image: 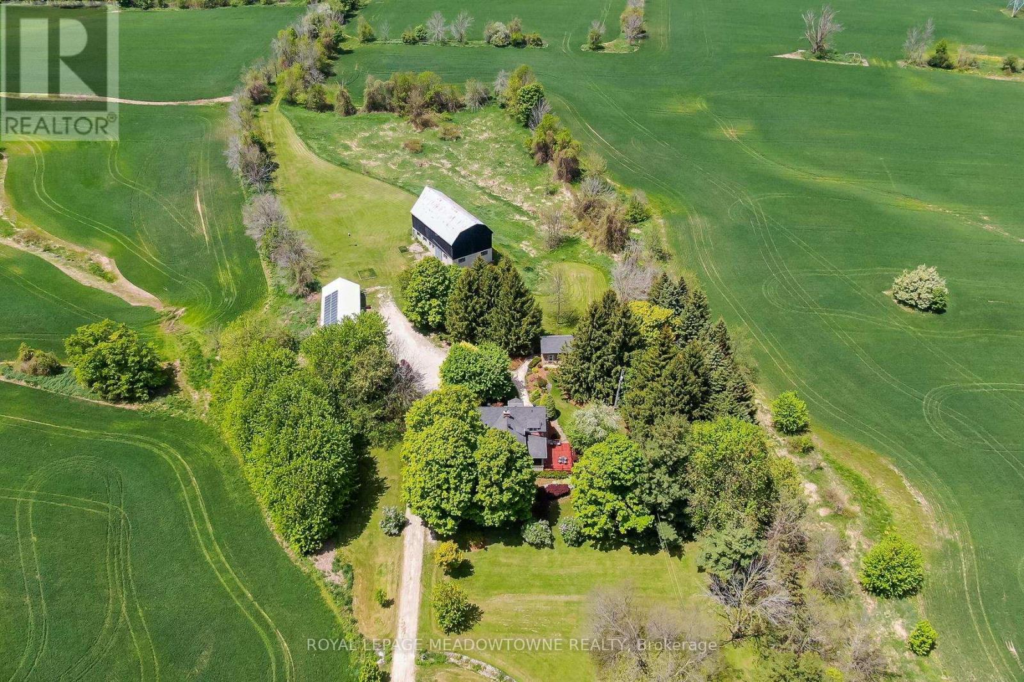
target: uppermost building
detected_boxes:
[408,190,492,267]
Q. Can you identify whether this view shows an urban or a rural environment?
rural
